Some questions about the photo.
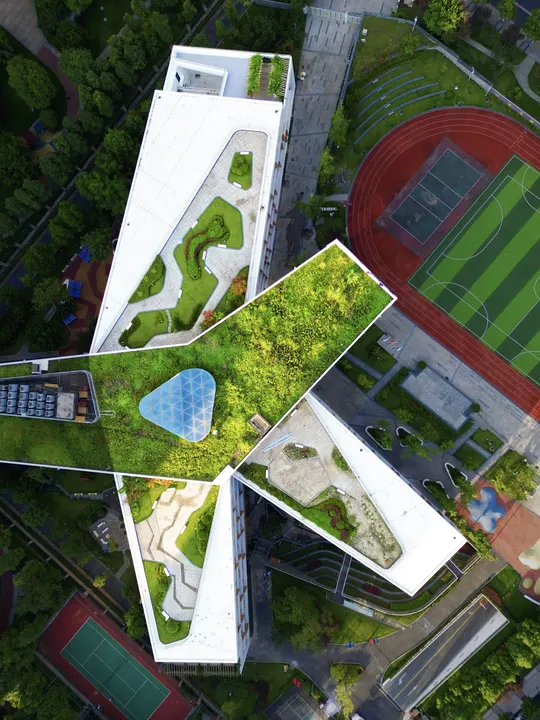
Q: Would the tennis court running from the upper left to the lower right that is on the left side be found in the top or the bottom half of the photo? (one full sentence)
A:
Seen from above, the tennis court running from the upper left to the lower right that is on the left side lies in the bottom half of the view.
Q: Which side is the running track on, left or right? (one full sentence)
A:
The running track sits on the right side.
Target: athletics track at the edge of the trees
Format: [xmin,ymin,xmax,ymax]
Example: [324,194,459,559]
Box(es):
[347,105,540,427]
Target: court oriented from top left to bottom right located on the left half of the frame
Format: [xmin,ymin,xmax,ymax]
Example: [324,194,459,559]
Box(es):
[39,593,206,720]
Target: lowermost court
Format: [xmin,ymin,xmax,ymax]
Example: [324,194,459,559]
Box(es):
[262,682,336,720]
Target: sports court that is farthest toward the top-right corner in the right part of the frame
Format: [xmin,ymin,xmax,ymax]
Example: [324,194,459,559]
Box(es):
[378,136,494,258]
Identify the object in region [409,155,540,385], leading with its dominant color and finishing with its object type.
green soccer field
